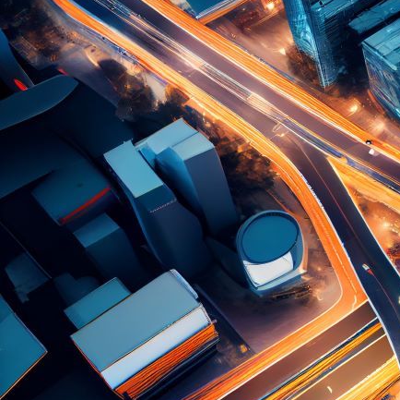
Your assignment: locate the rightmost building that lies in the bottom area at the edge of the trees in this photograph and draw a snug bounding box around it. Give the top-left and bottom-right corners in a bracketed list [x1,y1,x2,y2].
[235,206,314,292]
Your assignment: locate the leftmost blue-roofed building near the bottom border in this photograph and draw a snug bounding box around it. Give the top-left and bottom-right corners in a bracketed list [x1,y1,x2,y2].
[0,295,65,400]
